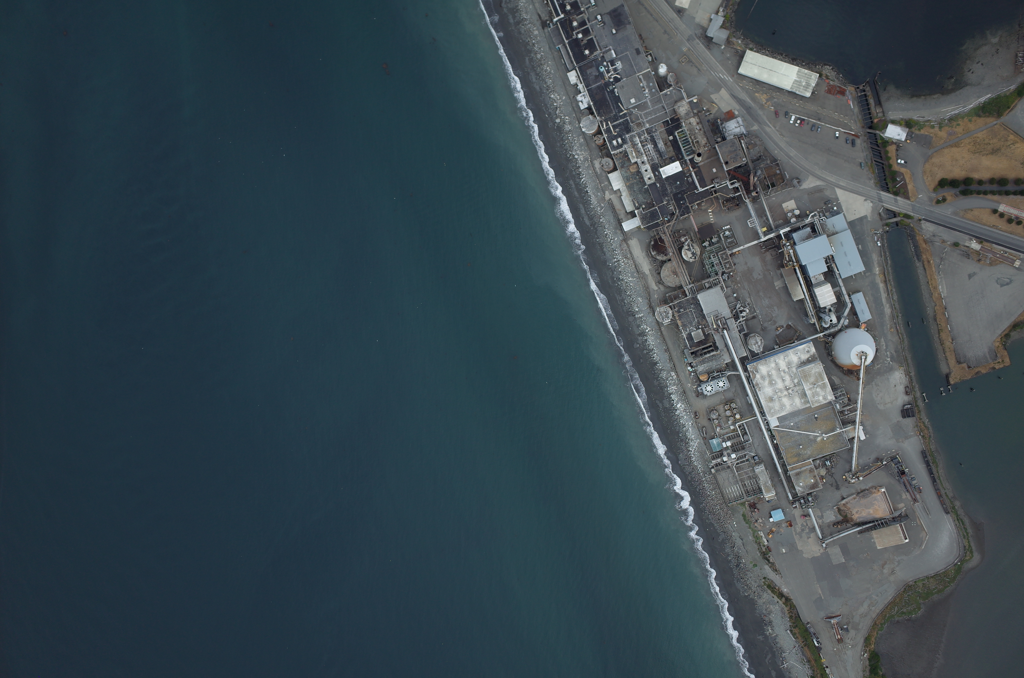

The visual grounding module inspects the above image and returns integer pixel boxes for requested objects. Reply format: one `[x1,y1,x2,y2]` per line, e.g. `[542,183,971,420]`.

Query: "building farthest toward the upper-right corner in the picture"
[883,123,909,142]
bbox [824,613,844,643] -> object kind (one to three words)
vehicle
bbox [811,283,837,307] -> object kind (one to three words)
building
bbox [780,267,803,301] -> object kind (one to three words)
shed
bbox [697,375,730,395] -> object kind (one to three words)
cooling tower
